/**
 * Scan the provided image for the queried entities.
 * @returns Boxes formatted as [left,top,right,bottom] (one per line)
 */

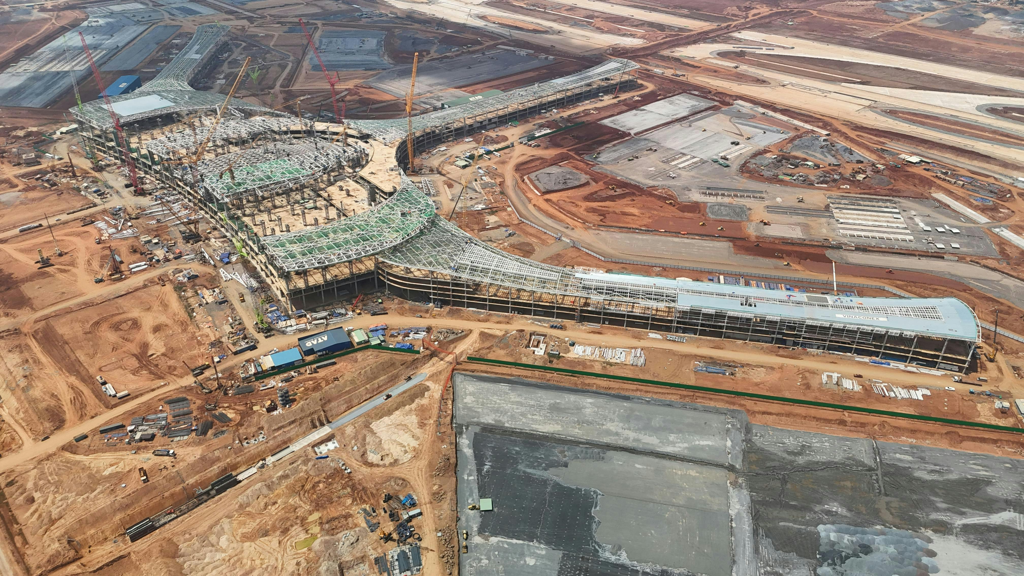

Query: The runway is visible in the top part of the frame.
[391,0,1024,144]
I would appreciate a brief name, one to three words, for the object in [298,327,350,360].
shed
